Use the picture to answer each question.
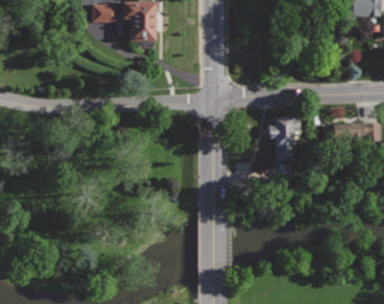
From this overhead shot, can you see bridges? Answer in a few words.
Yes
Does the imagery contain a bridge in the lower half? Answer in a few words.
Yes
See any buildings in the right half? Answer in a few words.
Yes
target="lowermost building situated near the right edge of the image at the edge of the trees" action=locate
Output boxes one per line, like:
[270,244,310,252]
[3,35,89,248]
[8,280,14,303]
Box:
[336,122,382,144]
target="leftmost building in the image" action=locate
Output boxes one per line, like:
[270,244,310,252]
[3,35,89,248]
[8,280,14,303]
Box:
[92,3,118,22]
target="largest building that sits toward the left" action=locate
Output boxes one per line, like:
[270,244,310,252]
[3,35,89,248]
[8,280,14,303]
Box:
[124,1,164,48]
